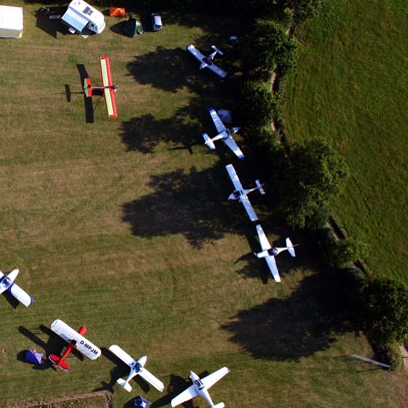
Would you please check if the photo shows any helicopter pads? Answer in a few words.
No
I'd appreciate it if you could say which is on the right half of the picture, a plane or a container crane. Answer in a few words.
plane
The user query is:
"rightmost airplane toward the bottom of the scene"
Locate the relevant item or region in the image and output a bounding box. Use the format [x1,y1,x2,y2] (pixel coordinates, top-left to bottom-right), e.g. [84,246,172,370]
[249,222,302,283]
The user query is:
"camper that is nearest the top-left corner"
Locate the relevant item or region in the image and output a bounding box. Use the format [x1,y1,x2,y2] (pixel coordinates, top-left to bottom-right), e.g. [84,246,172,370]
[59,0,107,40]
